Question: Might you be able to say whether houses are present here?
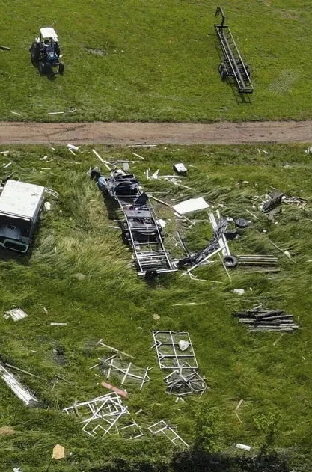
No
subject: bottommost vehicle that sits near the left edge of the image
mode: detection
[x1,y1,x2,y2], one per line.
[0,174,50,252]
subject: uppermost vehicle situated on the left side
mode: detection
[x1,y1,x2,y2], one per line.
[25,25,64,73]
